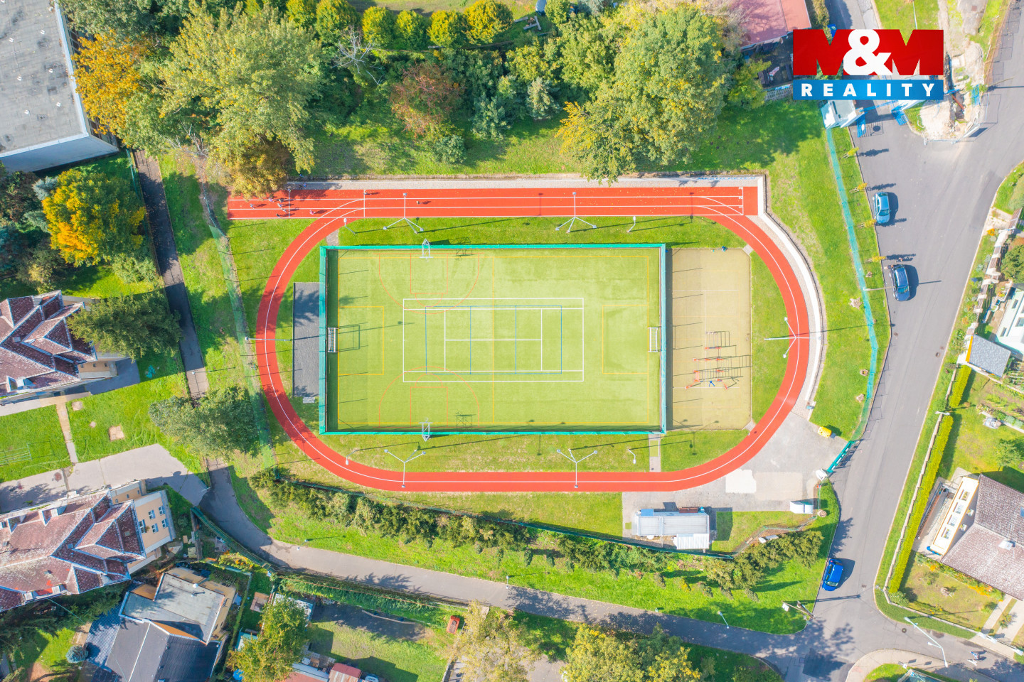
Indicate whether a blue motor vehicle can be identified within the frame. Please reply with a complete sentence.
Yes, the picture does show a blue motor vehicle.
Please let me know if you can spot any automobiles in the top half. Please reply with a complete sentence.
Yes, I can see an automobile in the top half.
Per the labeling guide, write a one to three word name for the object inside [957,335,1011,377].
building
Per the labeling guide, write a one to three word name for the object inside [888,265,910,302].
car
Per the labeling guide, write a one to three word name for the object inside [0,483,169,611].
house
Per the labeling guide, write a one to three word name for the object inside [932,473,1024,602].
house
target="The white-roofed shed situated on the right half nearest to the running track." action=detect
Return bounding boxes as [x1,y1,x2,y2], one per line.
[632,509,709,537]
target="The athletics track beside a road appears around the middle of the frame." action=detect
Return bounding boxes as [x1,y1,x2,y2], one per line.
[227,186,809,492]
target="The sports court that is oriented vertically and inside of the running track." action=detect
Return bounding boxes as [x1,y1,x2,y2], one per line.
[667,248,752,430]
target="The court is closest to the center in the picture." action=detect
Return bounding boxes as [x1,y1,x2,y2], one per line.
[327,248,661,431]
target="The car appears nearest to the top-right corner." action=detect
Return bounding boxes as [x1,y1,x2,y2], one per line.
[872,191,891,225]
